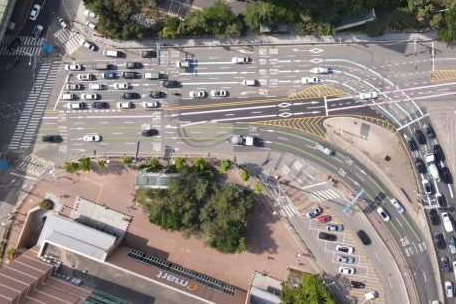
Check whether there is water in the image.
No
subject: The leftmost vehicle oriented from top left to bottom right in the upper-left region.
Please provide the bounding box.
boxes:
[56,15,72,32]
